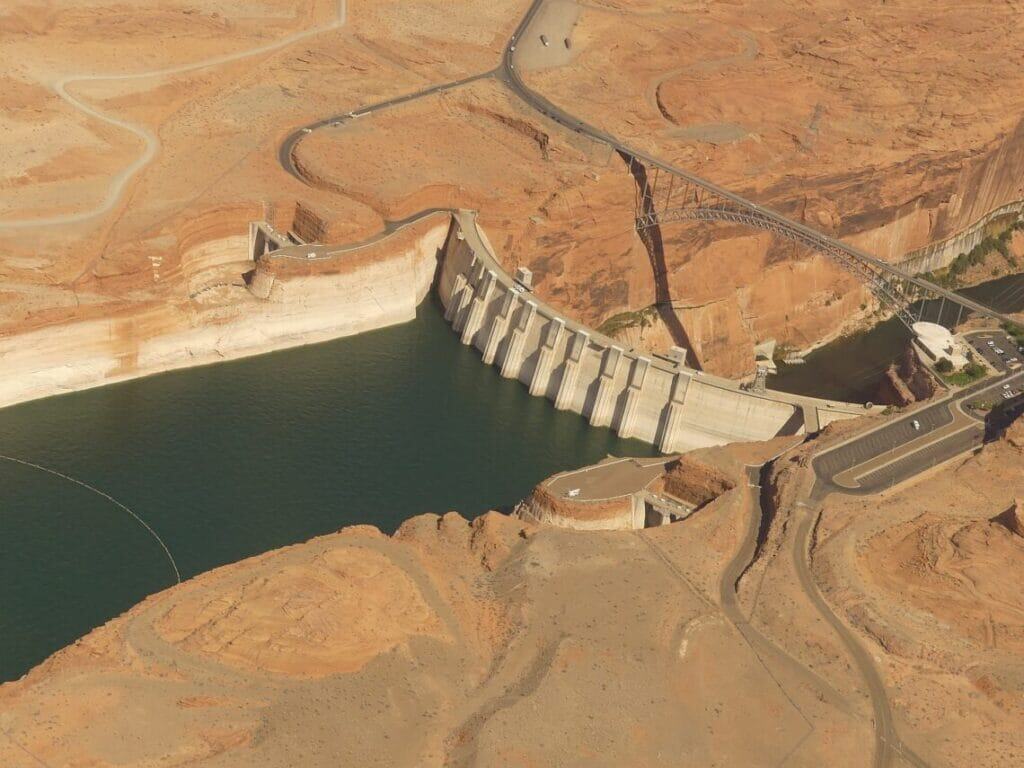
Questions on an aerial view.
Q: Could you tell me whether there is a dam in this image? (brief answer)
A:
Yes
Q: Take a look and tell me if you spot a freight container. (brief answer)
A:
No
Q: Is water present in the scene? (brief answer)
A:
Yes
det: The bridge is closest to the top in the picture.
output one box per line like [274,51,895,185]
[604,140,1024,337]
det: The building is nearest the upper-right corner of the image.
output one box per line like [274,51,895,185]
[913,319,969,370]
